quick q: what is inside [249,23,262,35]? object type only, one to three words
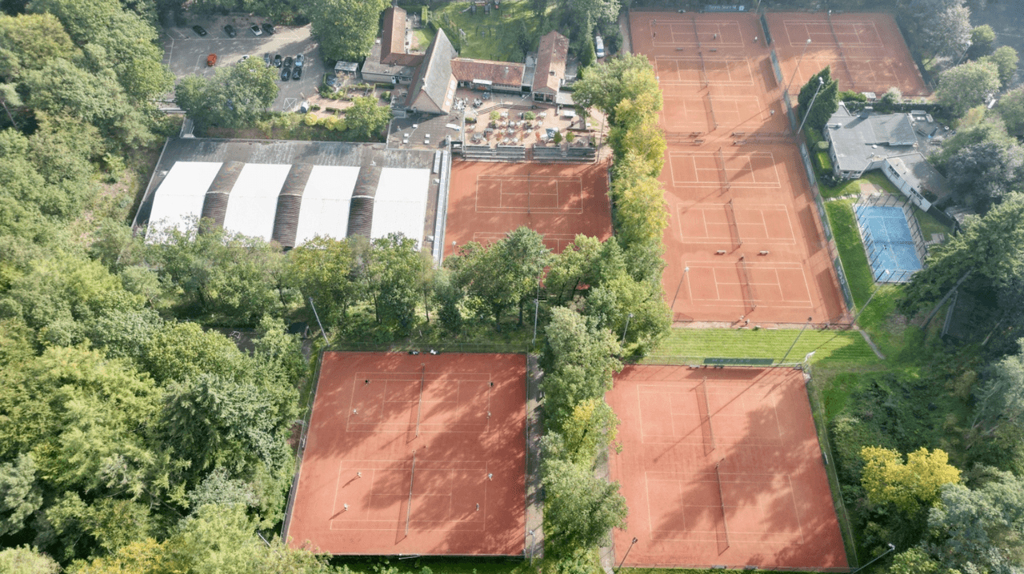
vehicle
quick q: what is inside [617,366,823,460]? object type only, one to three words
tennis court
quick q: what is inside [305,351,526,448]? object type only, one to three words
tennis court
